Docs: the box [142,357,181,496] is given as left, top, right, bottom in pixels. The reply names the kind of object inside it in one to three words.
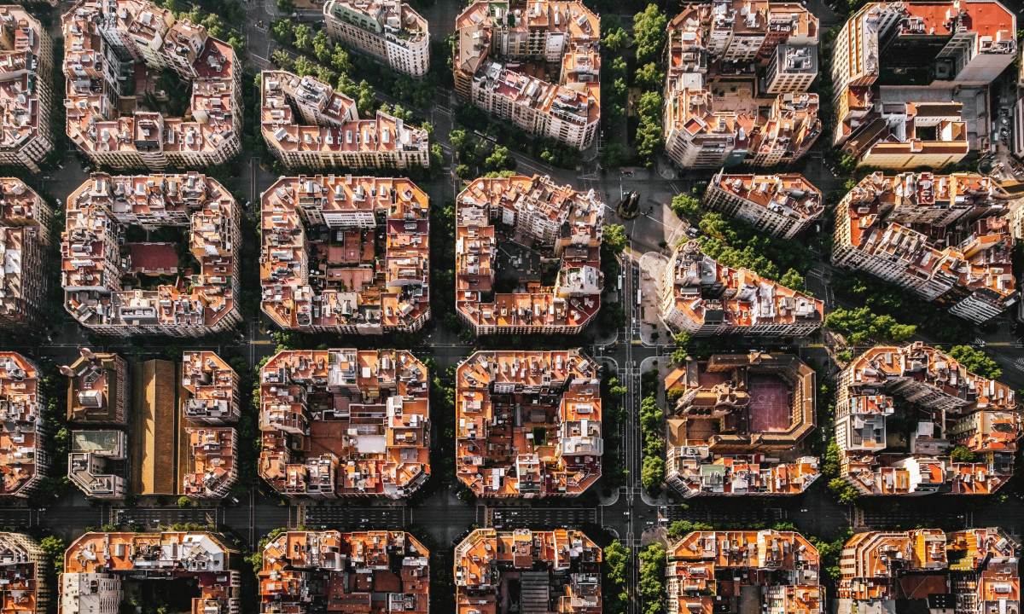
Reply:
building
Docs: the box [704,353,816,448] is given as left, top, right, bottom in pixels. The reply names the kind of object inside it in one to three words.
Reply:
building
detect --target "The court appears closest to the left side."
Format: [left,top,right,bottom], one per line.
[75,431,117,450]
